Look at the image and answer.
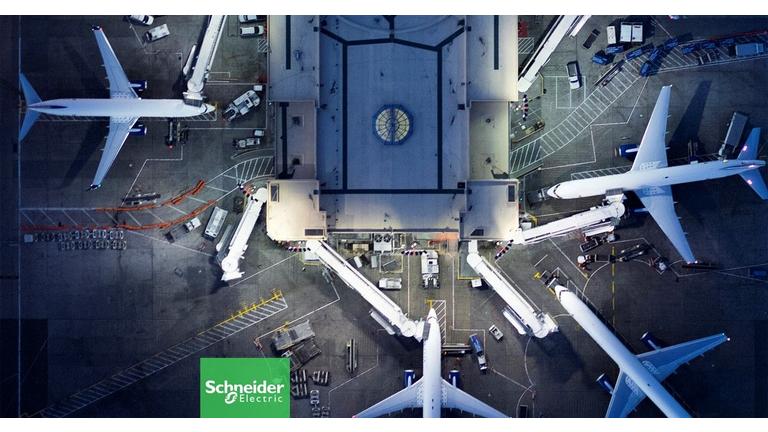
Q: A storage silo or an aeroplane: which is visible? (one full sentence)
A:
Visible in the photo is an aeroplane.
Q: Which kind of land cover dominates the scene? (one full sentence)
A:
The largest share of the image is taken up by paved ground.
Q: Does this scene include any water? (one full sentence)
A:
No, there's no water in this view.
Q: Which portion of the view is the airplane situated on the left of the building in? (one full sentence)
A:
The airplane situated on the left of the building sits in the top left section of the image.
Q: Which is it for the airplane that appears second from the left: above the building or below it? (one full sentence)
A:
The position of the airplane that appears second from the left is below the building.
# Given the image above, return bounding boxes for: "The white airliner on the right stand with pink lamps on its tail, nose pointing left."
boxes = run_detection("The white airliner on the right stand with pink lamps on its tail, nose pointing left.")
[546,82,768,266]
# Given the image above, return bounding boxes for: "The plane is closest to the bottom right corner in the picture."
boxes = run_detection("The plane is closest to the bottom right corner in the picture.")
[555,287,738,432]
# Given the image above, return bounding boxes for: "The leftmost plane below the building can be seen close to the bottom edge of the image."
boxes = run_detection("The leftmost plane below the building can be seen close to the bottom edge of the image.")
[350,308,515,432]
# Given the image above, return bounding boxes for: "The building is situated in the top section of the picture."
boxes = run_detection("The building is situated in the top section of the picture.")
[266,0,520,243]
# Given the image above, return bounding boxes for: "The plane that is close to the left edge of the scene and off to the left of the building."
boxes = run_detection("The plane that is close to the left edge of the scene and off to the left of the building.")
[13,24,217,189]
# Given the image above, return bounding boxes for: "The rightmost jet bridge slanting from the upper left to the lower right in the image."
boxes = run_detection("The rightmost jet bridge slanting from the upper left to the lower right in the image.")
[466,240,559,337]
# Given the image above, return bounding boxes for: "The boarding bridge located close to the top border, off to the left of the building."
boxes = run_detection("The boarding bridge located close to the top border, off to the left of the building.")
[183,0,230,106]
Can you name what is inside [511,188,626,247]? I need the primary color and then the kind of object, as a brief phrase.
white jet bridge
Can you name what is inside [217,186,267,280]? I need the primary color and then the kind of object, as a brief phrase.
white jet bridge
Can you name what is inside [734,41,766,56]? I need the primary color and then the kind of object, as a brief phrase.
blue vehicle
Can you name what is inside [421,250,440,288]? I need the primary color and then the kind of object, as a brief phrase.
white work vehicle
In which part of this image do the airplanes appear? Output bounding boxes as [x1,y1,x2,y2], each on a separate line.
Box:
[350,308,515,432]
[546,82,768,266]
[555,287,738,432]
[13,24,217,189]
